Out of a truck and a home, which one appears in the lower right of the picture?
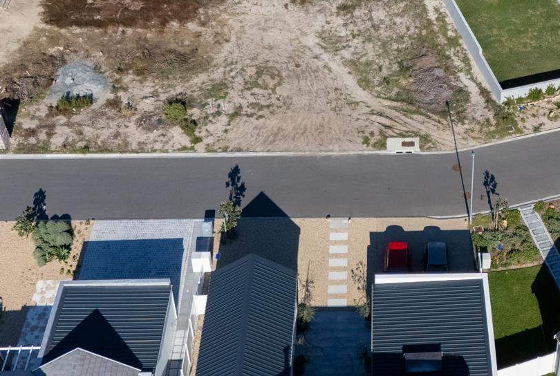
home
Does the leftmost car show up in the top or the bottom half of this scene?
bottom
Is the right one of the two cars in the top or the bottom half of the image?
bottom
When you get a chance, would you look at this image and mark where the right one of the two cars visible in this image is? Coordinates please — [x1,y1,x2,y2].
[421,245,451,274]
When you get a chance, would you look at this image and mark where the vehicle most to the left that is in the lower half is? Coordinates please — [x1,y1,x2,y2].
[381,244,411,274]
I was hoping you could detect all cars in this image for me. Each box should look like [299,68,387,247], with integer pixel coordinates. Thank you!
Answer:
[421,245,451,274]
[381,244,411,274]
